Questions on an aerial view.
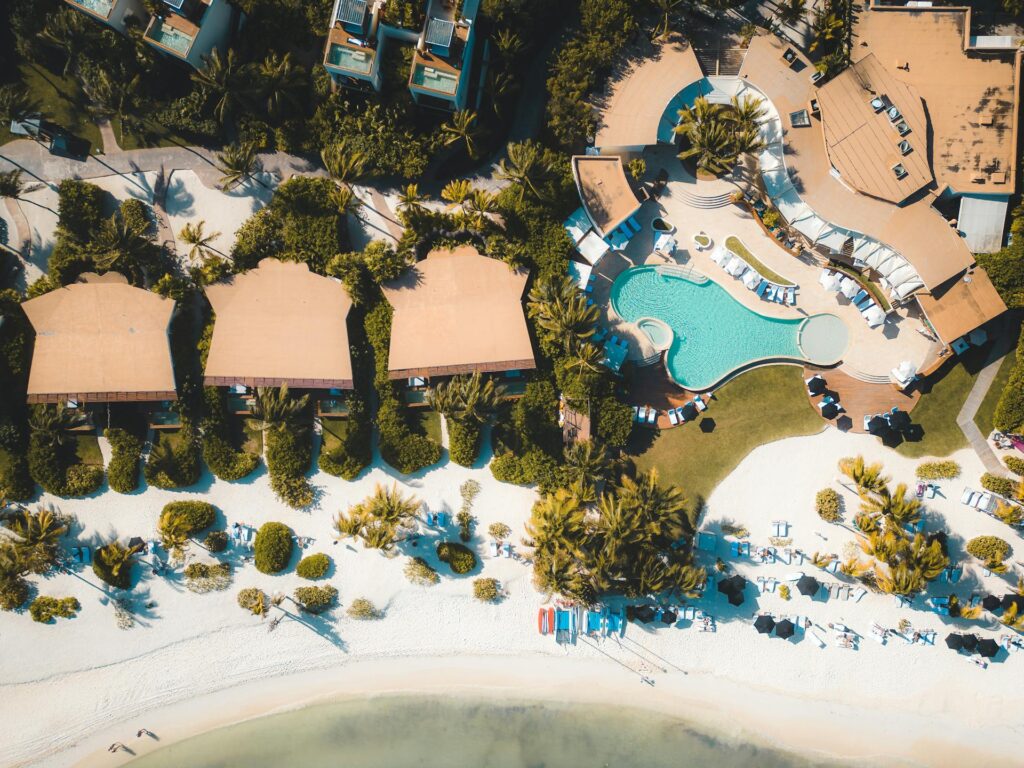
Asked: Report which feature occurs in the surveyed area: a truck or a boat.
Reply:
boat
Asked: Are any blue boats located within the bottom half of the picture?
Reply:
Yes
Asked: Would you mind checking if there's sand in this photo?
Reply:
Yes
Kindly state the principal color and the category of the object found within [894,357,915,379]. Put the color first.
white umbrella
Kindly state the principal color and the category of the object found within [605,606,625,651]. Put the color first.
blue boat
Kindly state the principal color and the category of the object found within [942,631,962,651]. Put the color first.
black umbrella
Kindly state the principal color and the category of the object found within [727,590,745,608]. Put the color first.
black umbrella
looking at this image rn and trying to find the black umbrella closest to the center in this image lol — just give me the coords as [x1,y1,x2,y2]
[681,401,699,420]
